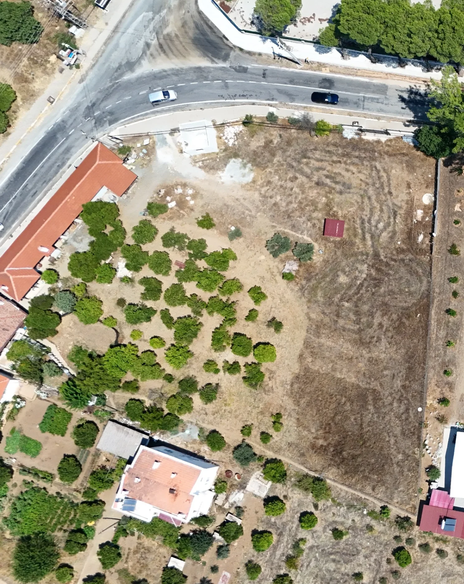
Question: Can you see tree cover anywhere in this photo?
Yes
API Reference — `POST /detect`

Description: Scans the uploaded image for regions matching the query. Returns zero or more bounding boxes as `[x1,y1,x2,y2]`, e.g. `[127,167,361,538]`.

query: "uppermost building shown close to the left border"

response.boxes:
[0,142,146,302]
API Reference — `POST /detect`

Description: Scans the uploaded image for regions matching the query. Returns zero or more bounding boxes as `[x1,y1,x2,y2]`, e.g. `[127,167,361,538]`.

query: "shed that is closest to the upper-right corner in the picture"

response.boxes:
[324,218,347,238]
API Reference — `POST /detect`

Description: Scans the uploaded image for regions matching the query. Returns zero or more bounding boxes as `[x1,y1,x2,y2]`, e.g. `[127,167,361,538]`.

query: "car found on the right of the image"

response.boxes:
[309,90,339,105]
